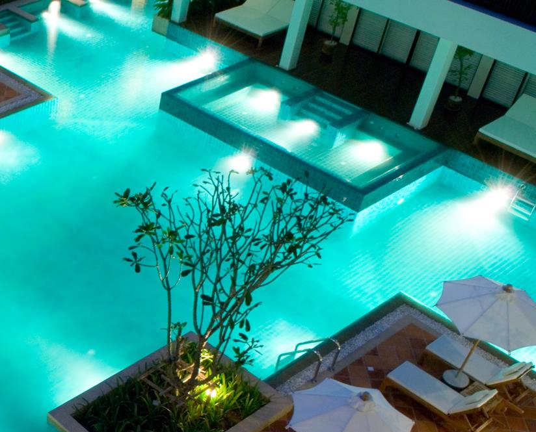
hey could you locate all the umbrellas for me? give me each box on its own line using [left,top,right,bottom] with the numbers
[429,275,536,390]
[281,375,421,432]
